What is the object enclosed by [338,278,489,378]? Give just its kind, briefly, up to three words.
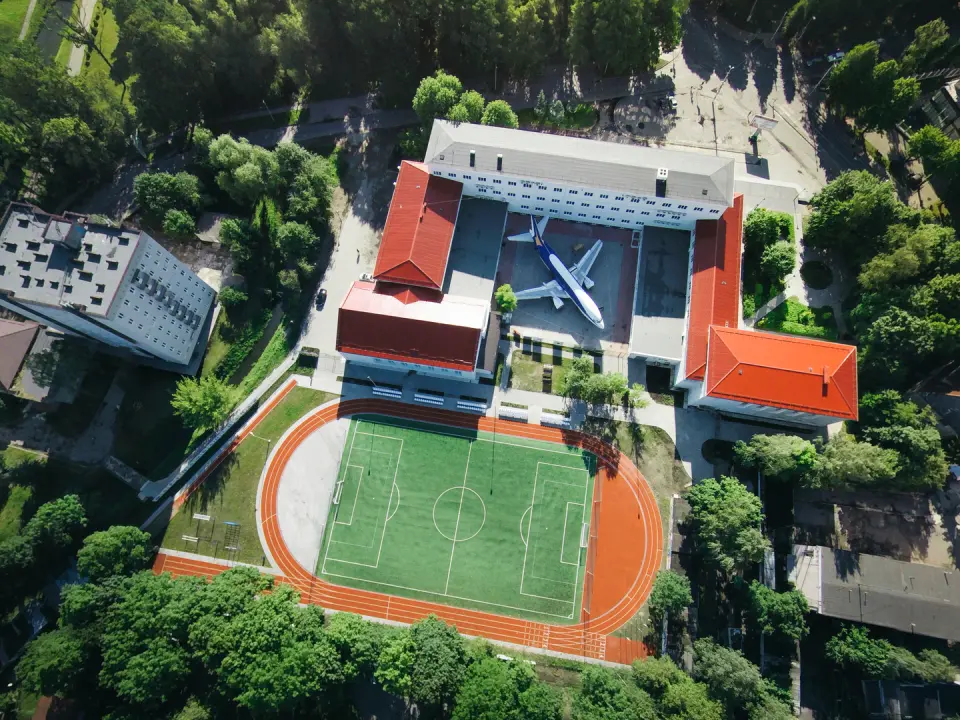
building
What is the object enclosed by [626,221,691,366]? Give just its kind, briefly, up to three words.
building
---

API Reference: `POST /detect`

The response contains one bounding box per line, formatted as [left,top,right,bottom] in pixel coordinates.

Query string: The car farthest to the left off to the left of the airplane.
[314,288,327,307]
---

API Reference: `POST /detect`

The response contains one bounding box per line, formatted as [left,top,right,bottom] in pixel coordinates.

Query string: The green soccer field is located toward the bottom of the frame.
[316,415,597,622]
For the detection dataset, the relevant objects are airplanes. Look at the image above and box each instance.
[503,215,603,327]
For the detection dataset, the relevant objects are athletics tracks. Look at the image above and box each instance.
[152,392,663,666]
